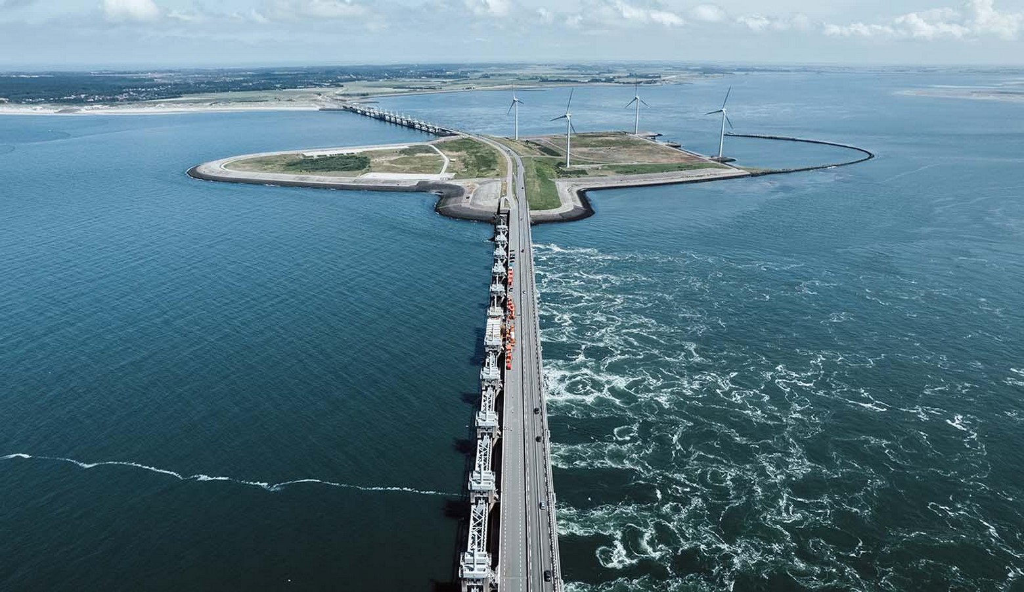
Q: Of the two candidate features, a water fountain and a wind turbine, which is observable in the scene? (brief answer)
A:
wind turbine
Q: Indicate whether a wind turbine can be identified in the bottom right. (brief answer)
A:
No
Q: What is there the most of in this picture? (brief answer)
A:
water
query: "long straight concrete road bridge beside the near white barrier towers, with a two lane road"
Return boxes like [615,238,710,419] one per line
[498,204,562,592]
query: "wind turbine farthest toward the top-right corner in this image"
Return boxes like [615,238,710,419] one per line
[704,88,733,159]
